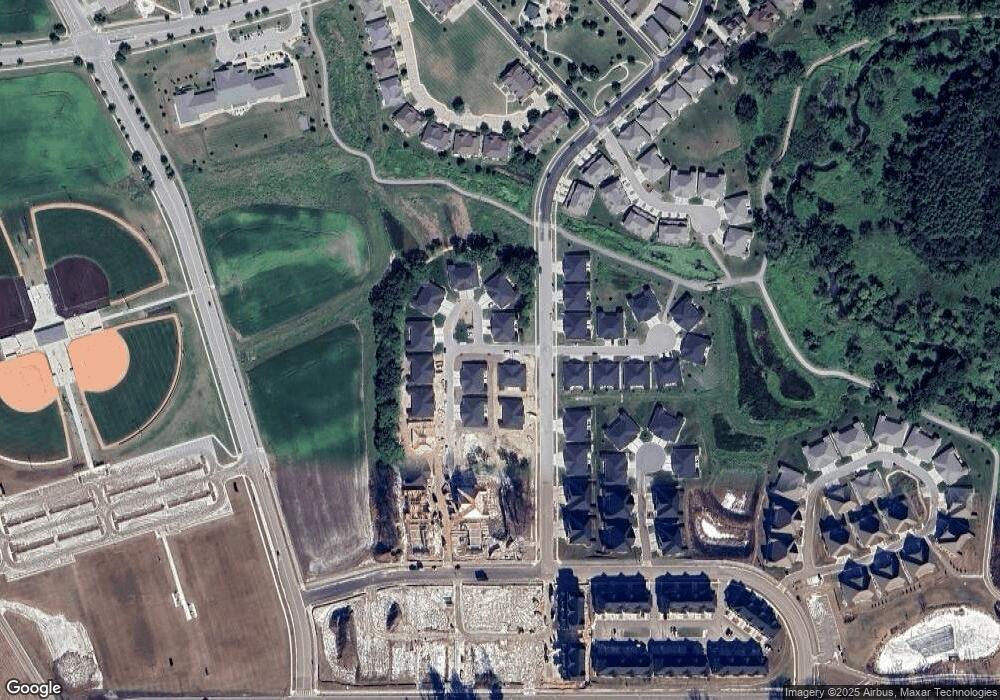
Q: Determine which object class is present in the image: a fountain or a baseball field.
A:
baseball field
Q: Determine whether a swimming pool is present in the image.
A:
No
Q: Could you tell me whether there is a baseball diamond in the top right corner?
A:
No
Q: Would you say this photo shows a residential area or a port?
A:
residential area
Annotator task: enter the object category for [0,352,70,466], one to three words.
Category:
baseball field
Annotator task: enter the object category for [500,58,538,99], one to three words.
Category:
building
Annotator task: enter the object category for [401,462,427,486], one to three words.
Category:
house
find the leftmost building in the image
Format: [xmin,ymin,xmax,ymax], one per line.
[33,321,68,347]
